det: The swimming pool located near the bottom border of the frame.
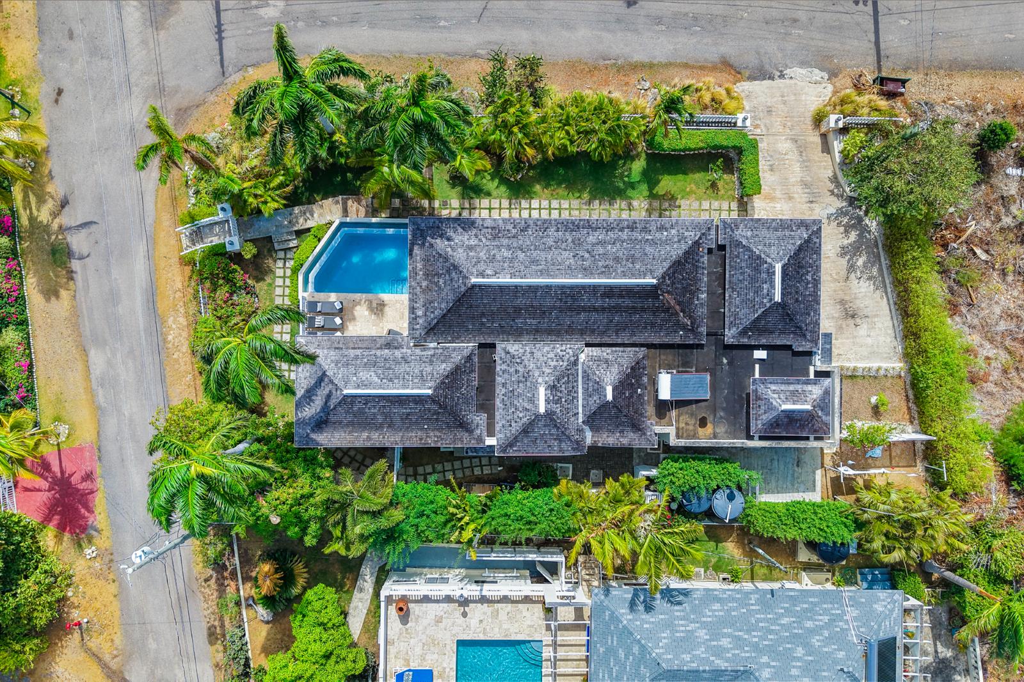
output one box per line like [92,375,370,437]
[454,637,542,682]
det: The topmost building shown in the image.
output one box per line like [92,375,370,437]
[294,217,840,456]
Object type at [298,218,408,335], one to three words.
swimming pool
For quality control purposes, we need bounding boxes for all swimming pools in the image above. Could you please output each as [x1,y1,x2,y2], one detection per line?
[298,218,408,335]
[454,637,542,682]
